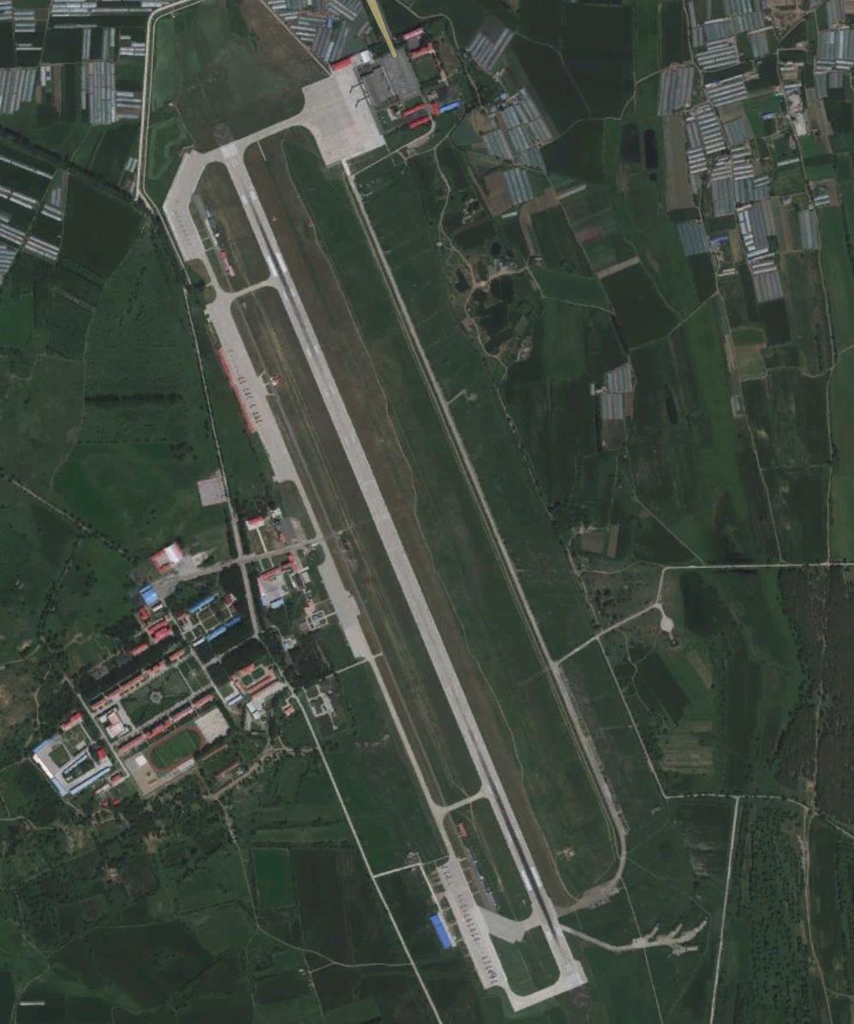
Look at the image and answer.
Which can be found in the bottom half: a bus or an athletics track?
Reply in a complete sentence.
Visible in the bottom half is an athletics track.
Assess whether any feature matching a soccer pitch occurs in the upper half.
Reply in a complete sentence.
No, there's no soccer pitch to be seen in the upper half.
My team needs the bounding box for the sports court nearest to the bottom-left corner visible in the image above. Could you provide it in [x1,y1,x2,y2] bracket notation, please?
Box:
[132,762,159,794]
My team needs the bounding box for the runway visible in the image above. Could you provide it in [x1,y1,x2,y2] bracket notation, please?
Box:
[220,141,582,984]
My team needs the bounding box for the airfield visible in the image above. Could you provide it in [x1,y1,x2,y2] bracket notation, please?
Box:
[164,68,588,1011]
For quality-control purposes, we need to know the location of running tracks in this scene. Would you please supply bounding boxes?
[147,725,206,772]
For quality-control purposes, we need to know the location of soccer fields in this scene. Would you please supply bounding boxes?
[152,729,202,767]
